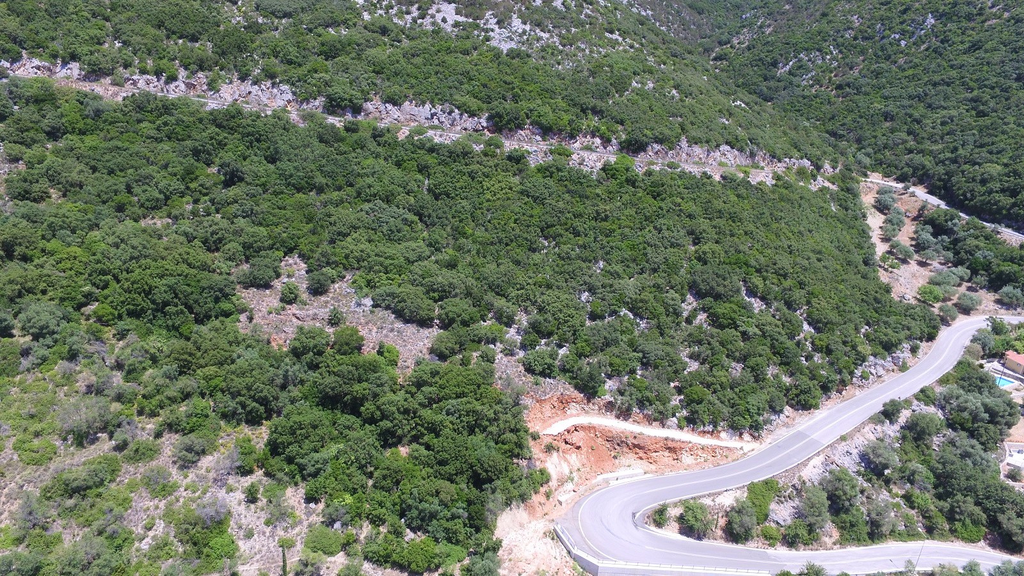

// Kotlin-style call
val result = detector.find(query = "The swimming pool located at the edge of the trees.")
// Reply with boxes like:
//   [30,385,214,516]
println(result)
[993,376,1018,390]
